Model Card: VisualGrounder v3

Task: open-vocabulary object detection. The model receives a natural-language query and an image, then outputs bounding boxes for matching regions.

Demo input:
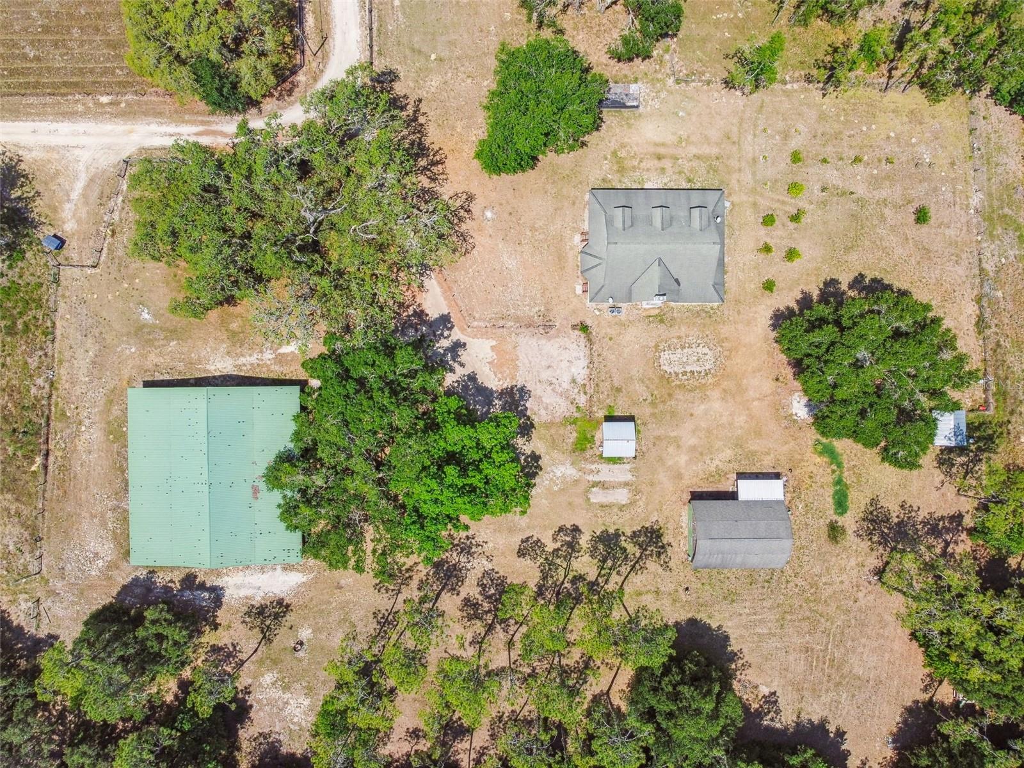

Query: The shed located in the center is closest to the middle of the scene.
[602,422,636,457]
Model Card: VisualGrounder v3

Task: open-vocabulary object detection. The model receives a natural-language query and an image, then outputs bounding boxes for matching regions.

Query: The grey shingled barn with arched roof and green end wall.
[689,498,794,568]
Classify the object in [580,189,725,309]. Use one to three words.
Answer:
house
